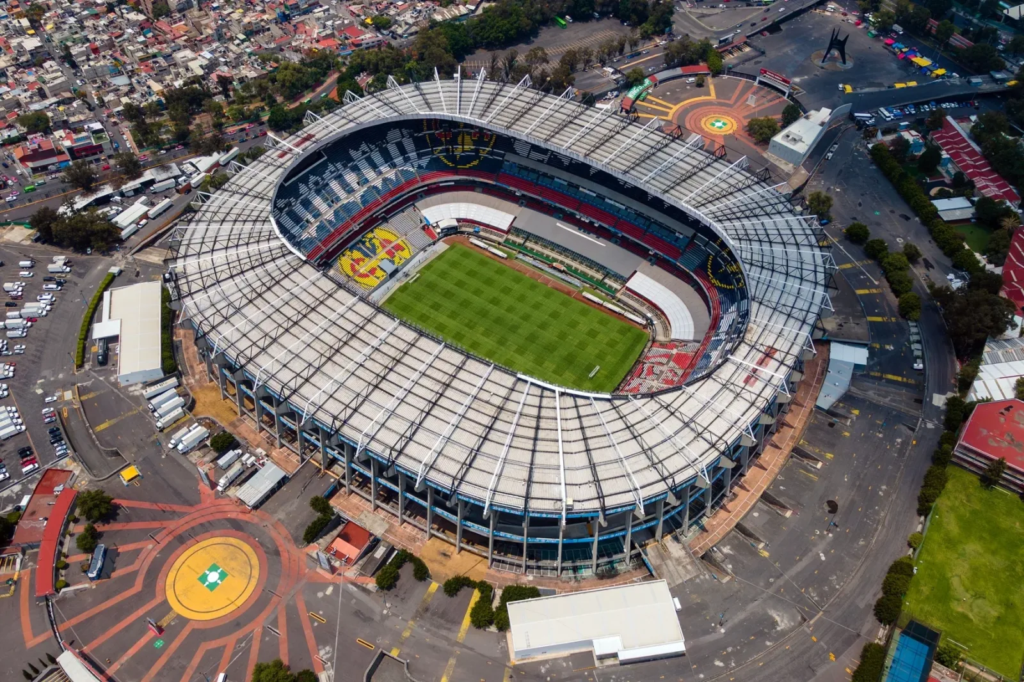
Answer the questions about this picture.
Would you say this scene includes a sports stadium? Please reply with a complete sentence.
Yes, looking at the shot, I can spot a sports stadium.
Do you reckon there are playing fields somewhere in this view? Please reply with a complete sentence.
Yes, the image includes a playing field.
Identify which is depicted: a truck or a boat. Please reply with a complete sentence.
The one in the frame is a truck.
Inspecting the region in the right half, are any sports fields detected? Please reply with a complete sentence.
Yes, there is a sports field in the right half.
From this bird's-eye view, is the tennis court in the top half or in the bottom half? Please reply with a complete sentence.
You can find the tennis court in the bottom half.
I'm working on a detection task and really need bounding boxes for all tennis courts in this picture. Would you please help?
[886,635,929,682]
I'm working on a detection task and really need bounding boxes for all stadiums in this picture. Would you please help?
[170,68,833,582]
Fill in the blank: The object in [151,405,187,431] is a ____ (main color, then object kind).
white truck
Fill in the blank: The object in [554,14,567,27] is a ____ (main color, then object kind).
green vehicle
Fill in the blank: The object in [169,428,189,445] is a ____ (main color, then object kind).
white vehicle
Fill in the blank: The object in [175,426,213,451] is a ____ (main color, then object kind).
white truck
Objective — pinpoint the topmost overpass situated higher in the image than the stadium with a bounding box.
[723,0,817,36]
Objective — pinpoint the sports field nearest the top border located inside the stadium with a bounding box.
[378,243,647,392]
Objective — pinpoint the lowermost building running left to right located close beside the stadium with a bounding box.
[508,579,686,671]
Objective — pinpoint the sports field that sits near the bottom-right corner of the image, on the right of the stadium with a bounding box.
[901,468,1024,682]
